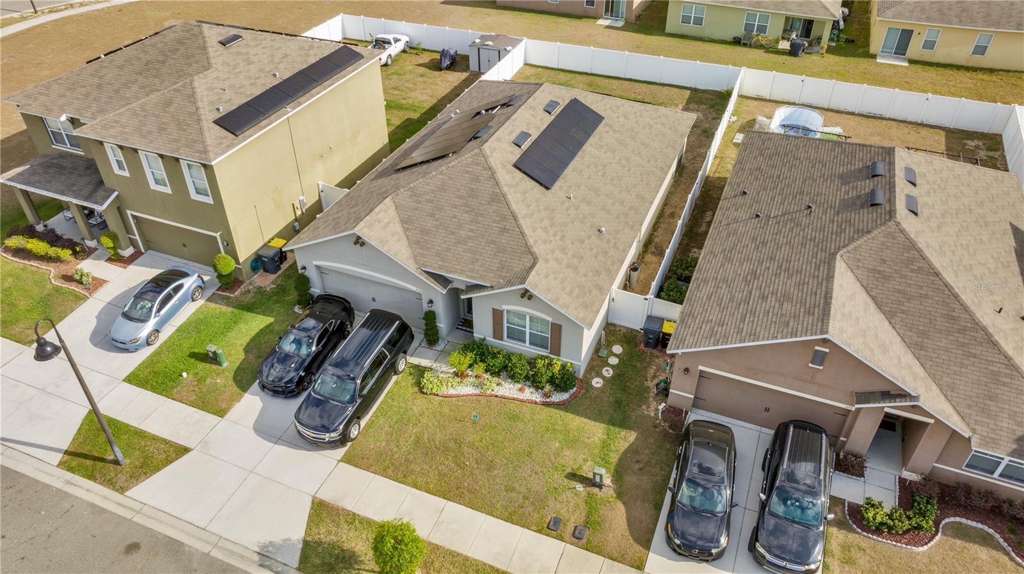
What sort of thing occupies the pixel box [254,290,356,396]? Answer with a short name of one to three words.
car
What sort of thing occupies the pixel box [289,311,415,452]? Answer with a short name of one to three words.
car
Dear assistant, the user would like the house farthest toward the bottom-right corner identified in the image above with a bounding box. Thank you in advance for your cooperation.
[666,125,1024,503]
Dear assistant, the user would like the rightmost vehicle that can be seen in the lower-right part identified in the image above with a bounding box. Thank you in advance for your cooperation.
[750,423,838,574]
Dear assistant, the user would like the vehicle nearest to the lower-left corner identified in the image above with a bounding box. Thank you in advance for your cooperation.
[104,262,204,348]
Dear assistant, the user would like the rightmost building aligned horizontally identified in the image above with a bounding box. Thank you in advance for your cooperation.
[870,0,1024,74]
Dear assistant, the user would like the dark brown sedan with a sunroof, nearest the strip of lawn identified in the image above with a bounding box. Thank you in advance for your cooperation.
[664,418,739,565]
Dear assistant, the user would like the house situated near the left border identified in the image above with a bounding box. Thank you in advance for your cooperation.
[0,12,388,282]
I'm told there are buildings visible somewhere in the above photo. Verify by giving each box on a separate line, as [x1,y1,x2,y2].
[280,80,697,377]
[666,125,1024,503]
[0,12,388,282]
[491,0,650,26]
[666,0,844,53]
[468,31,520,73]
[870,0,1024,74]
